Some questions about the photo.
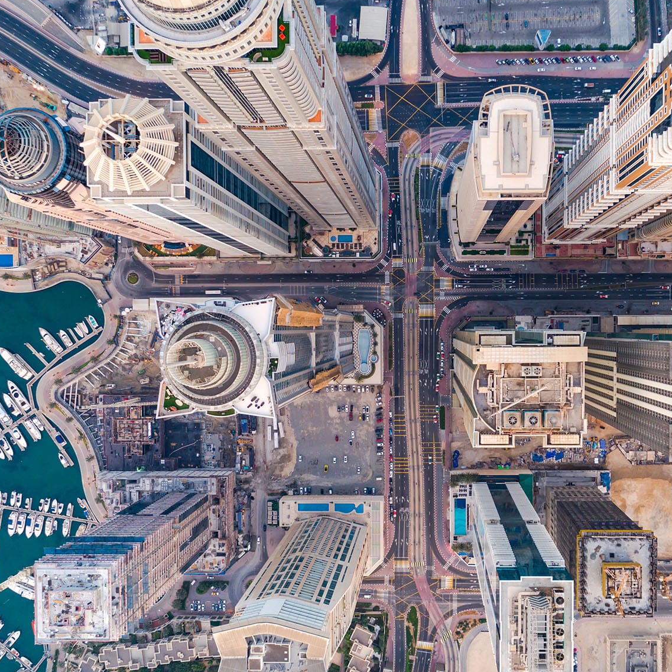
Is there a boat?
Yes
